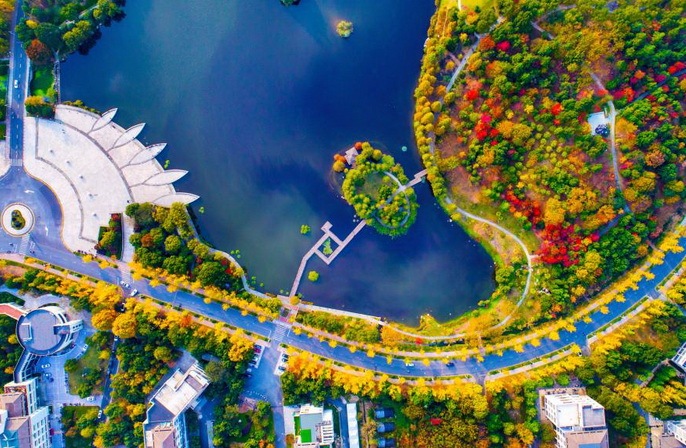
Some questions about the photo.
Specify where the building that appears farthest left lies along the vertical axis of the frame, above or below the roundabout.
below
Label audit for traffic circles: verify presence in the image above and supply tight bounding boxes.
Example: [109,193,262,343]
[1,203,34,236]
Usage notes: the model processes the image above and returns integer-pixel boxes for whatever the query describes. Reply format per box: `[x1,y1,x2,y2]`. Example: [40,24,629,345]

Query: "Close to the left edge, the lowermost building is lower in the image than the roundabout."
[0,348,53,448]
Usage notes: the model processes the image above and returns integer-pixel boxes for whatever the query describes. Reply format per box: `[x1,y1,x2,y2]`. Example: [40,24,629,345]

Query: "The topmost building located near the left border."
[16,299,96,355]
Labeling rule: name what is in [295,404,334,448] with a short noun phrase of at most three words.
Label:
building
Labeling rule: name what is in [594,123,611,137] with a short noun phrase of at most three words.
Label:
gazebo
